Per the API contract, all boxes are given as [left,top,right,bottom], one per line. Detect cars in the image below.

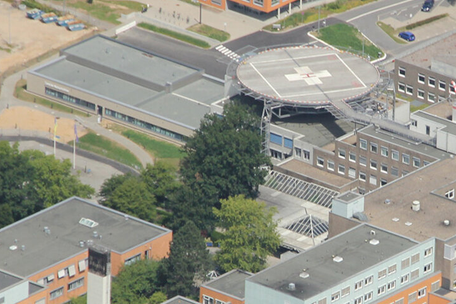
[422,0,434,9]
[398,30,416,39]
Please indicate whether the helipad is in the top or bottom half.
top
